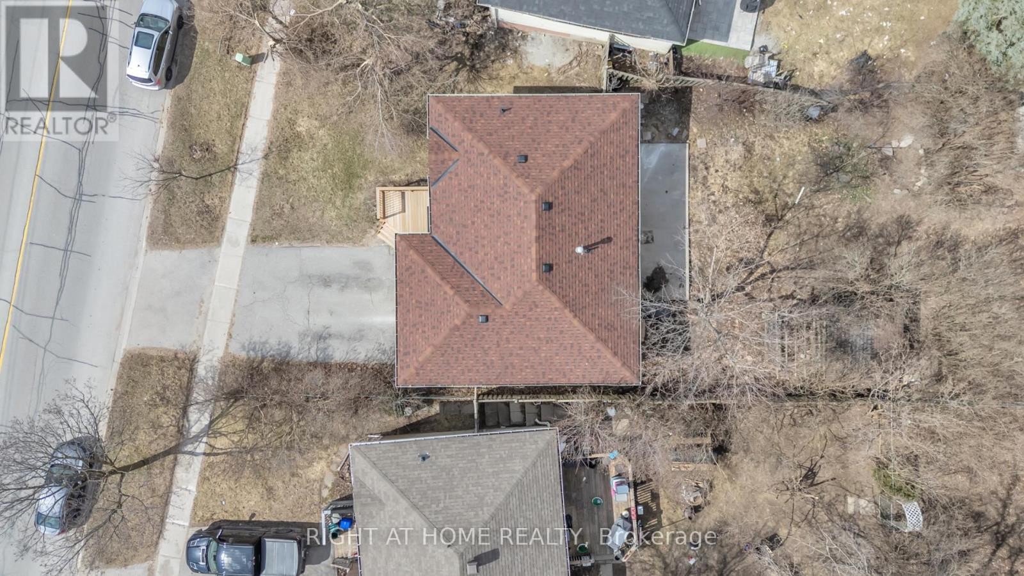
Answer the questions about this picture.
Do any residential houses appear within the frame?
Yes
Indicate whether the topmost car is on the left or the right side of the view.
left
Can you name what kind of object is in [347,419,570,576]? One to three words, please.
house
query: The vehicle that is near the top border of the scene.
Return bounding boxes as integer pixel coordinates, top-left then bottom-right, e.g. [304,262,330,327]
[124,0,183,92]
